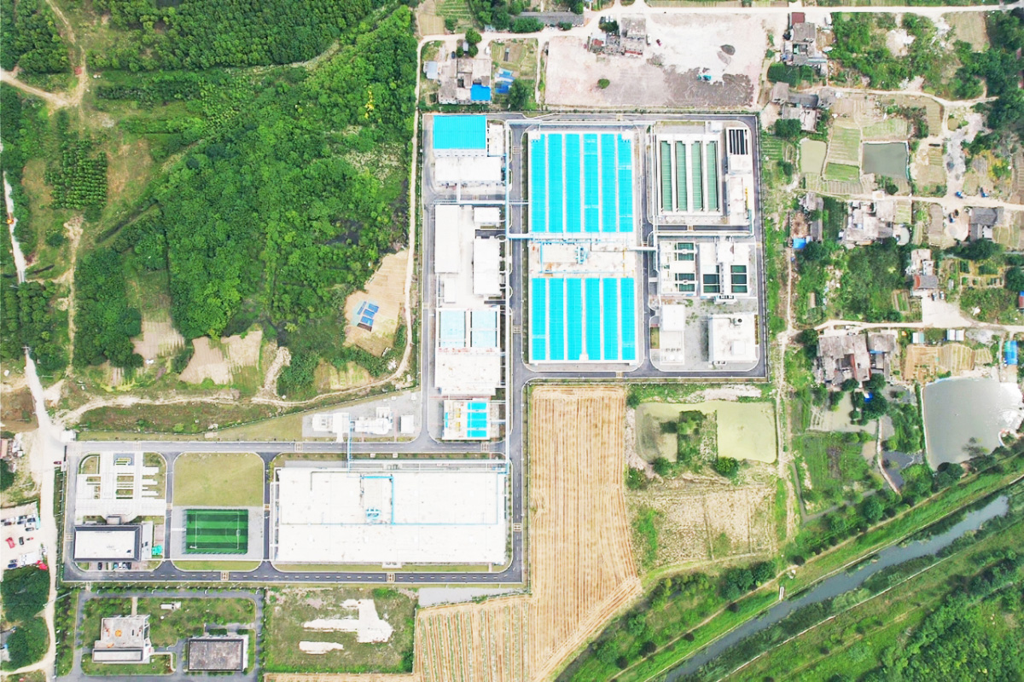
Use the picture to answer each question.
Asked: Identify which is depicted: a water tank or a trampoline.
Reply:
water tank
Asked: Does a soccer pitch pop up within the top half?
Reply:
No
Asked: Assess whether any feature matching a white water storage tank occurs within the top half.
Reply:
Yes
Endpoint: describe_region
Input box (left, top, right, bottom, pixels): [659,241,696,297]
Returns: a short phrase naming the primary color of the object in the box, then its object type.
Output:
white water tank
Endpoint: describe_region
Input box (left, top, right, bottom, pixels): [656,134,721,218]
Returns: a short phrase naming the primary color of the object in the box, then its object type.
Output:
white water tank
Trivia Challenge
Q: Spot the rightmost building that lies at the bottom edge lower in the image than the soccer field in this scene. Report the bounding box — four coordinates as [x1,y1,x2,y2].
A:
[188,635,247,672]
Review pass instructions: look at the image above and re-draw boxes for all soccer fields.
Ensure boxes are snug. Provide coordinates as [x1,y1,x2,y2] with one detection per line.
[186,511,248,554]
